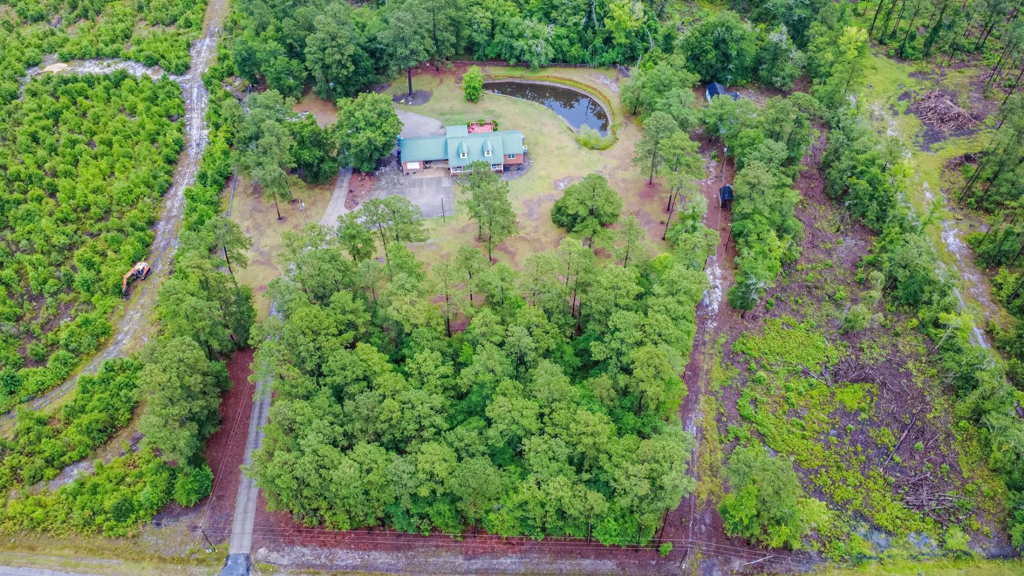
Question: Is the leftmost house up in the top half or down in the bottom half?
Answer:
top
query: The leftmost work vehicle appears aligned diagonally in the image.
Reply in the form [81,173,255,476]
[117,258,151,294]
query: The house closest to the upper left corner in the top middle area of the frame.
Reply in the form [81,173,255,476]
[399,121,523,175]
